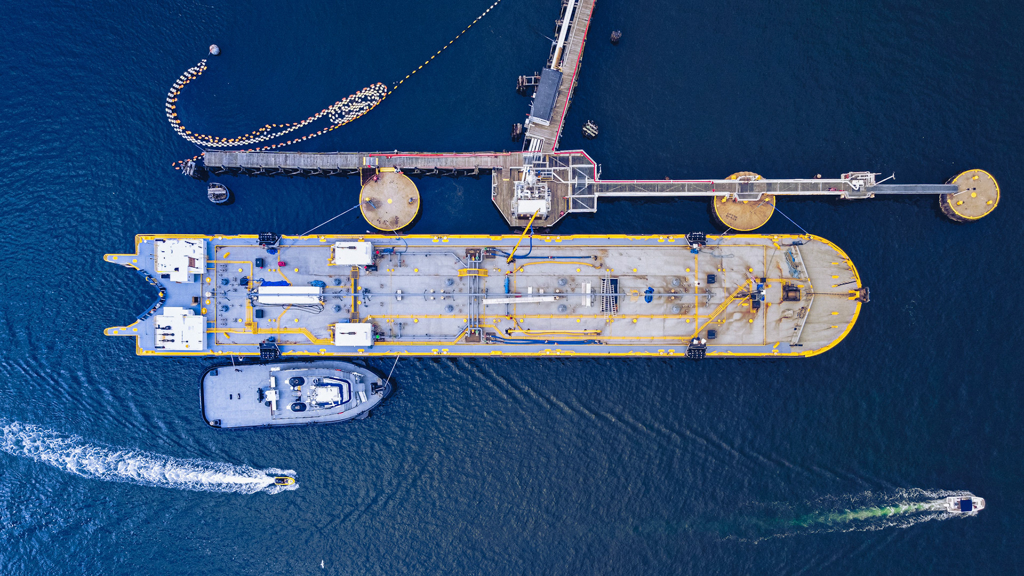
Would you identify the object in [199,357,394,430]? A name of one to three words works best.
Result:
boat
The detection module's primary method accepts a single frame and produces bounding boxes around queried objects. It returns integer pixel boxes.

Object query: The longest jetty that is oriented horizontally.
[203,149,525,178]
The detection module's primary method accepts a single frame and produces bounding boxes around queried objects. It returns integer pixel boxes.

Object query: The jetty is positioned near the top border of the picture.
[522,0,596,155]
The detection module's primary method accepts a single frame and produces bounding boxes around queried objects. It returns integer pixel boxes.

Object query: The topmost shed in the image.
[524,68,562,126]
